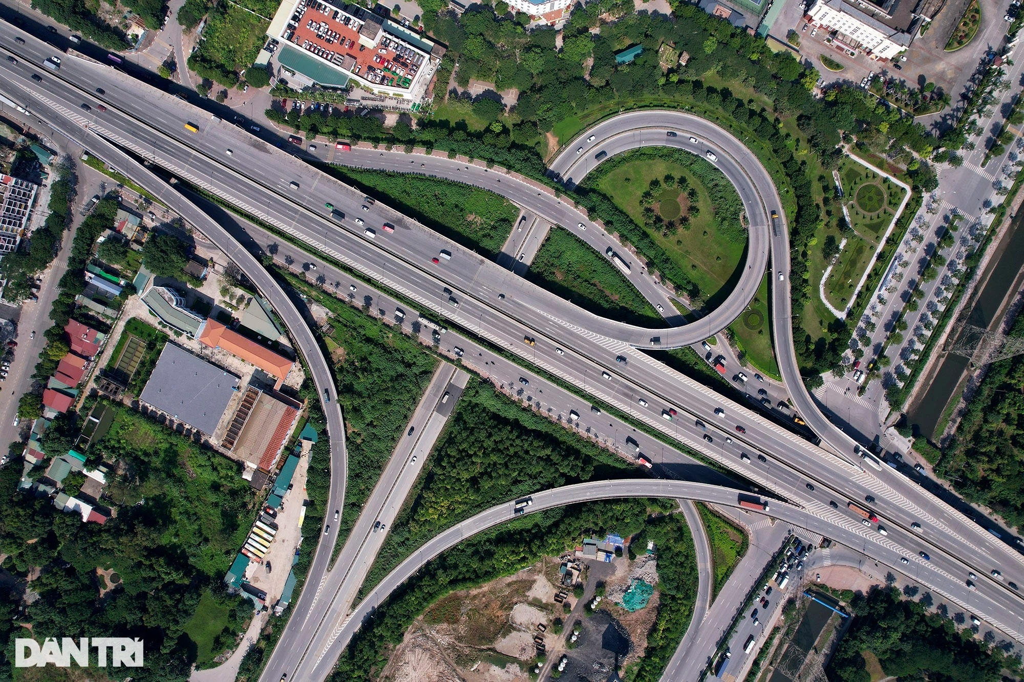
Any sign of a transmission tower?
Yes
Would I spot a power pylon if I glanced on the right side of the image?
Yes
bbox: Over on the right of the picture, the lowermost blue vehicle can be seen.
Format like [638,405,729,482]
[715,652,731,678]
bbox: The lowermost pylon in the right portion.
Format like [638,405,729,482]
[772,638,828,682]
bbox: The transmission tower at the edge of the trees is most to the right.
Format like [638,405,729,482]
[942,320,1024,370]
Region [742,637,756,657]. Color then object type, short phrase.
white vehicle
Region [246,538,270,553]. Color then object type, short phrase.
white vehicle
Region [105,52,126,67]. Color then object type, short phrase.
purple vehicle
